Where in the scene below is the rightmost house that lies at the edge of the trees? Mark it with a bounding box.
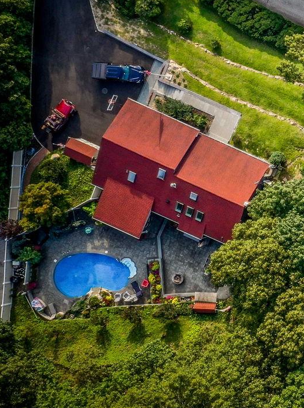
[92,96,278,244]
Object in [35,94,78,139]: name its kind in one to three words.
truck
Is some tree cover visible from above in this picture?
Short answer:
Yes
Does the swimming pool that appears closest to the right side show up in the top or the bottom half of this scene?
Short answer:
bottom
